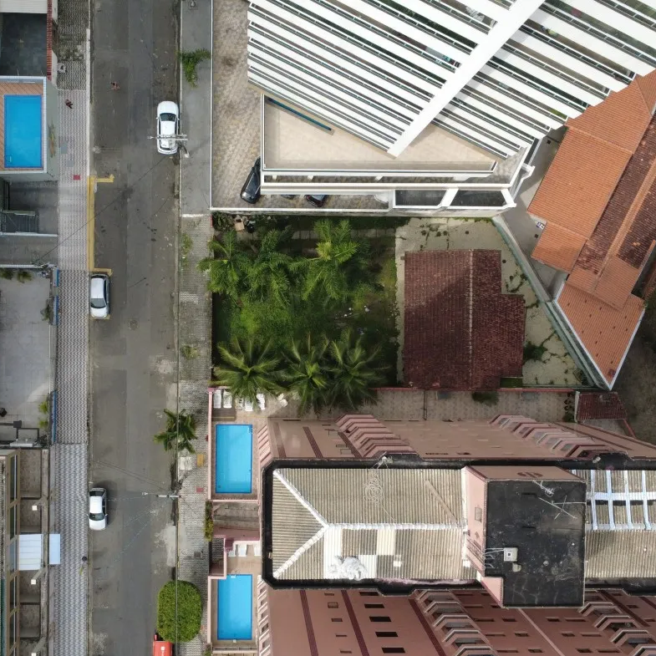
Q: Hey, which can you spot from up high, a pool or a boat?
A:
pool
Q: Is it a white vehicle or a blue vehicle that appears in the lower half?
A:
white vehicle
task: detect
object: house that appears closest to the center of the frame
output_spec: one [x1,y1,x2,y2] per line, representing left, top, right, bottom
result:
[402,249,525,391]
